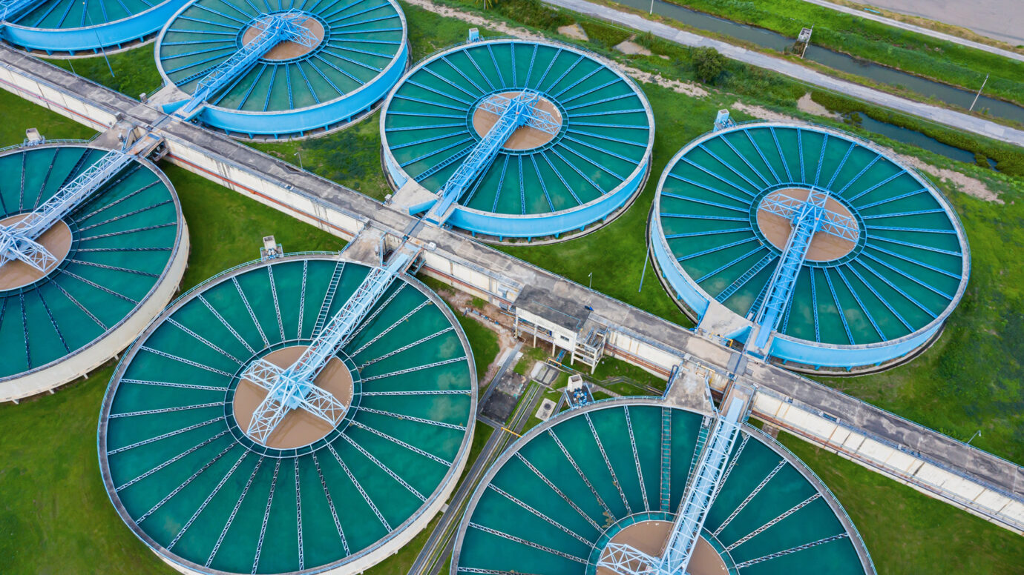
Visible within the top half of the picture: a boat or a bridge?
bridge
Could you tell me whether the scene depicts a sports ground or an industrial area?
industrial area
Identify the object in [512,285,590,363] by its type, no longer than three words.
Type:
building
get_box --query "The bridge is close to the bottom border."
[595,398,745,575]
